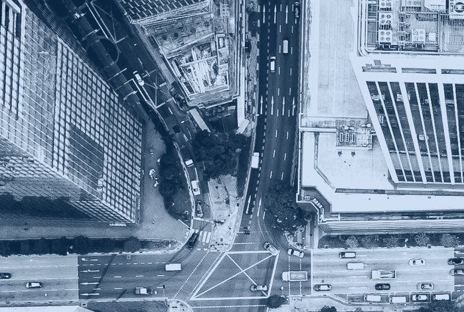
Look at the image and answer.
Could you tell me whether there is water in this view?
No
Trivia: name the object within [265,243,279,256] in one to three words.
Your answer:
vehicle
